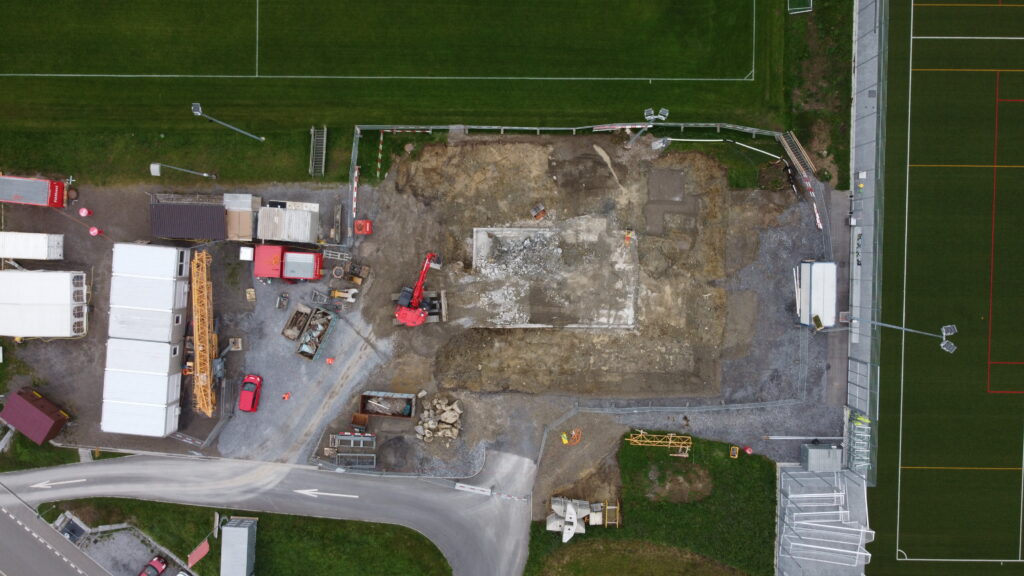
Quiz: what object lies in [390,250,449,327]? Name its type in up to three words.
work vehicle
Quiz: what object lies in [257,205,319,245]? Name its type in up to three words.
shed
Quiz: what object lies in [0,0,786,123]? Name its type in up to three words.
soccer field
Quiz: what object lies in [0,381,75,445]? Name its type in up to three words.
shed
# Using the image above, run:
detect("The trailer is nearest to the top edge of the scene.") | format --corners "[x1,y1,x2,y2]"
[0,176,69,209]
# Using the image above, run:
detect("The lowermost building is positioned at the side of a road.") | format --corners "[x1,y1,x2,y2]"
[220,511,259,576]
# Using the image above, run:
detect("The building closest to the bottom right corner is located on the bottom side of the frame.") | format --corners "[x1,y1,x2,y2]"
[801,438,843,472]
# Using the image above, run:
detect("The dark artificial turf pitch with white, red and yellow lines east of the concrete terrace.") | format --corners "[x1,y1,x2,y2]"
[866,0,1024,576]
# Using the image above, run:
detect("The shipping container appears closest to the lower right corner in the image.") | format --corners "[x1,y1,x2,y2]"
[799,262,836,327]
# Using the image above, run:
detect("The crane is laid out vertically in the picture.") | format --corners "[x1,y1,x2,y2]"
[180,252,236,418]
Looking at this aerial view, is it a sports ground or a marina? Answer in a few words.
sports ground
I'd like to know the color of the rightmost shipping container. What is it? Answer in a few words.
white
